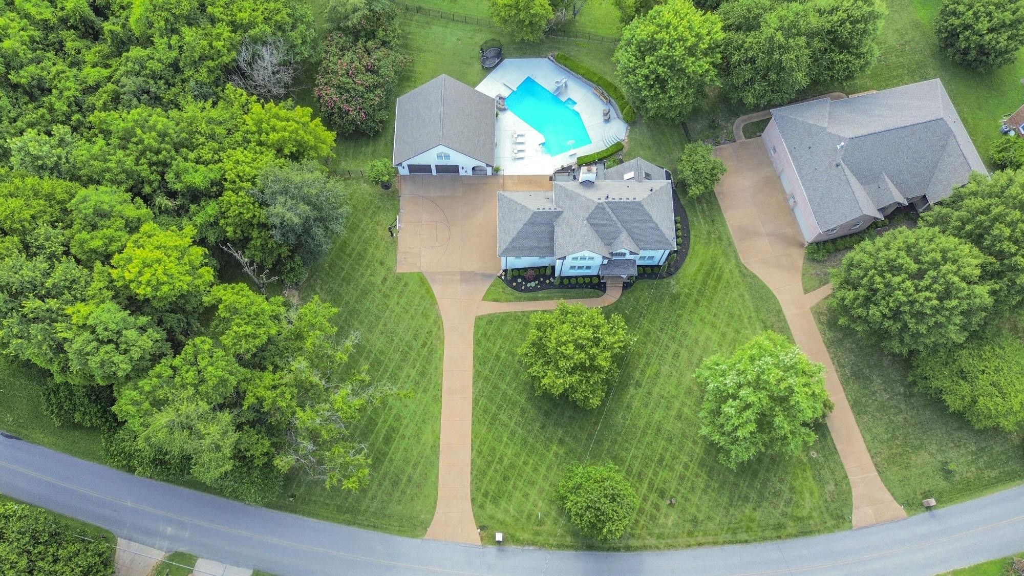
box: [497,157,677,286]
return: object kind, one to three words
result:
house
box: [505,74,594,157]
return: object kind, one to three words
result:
swimming pool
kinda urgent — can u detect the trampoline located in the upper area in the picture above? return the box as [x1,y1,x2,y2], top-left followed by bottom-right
[481,40,503,70]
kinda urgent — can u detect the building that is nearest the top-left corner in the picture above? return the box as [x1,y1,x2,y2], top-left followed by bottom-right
[391,75,495,177]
